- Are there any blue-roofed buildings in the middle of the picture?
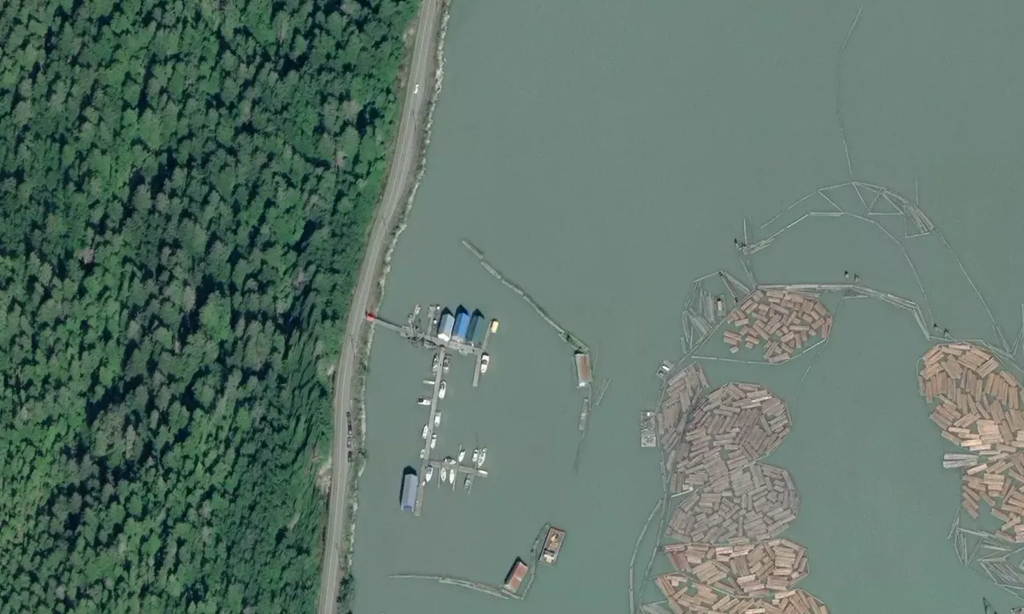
Yes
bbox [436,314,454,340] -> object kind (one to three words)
building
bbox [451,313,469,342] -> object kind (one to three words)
building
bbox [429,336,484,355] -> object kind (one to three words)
pier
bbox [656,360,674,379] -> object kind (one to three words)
ship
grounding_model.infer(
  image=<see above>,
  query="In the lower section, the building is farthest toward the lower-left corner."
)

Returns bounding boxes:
[402,474,419,514]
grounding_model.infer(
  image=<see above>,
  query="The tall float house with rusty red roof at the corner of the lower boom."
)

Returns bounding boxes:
[504,562,529,595]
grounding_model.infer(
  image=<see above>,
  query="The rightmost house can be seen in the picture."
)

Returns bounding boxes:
[575,354,593,386]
